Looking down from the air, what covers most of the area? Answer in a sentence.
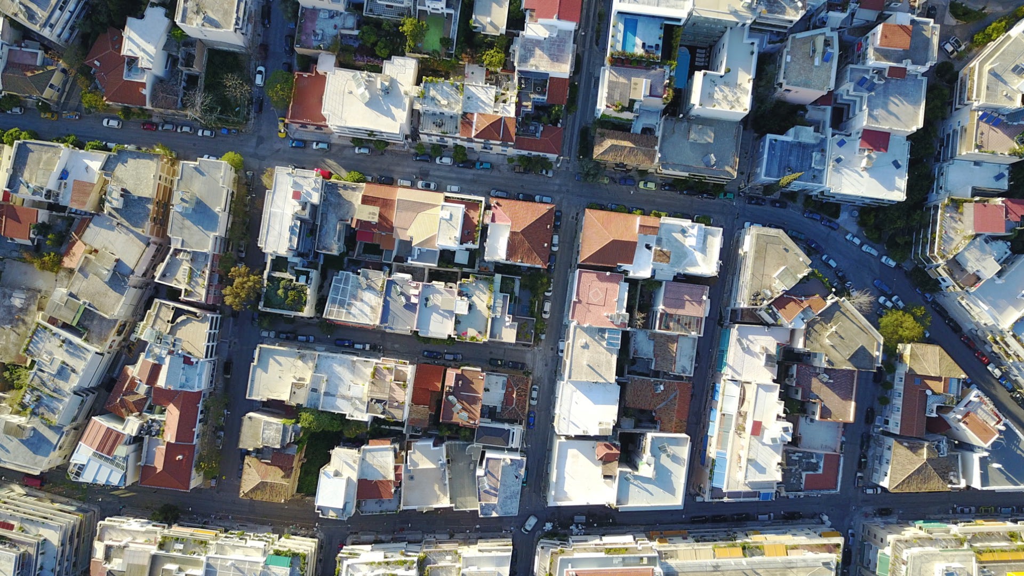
Most of the picture is covered by buildings.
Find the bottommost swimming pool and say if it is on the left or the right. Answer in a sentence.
The bottommost swimming pool sits on the right side.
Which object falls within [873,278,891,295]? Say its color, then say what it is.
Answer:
blue car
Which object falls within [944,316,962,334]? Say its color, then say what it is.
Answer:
black car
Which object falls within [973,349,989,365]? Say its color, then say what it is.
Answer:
red car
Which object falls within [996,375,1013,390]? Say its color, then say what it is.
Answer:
blue car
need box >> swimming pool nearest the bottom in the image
[670,46,692,93]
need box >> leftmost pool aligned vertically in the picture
[623,18,637,52]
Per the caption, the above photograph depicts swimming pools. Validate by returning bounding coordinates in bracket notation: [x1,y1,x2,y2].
[623,18,637,52]
[670,46,692,93]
